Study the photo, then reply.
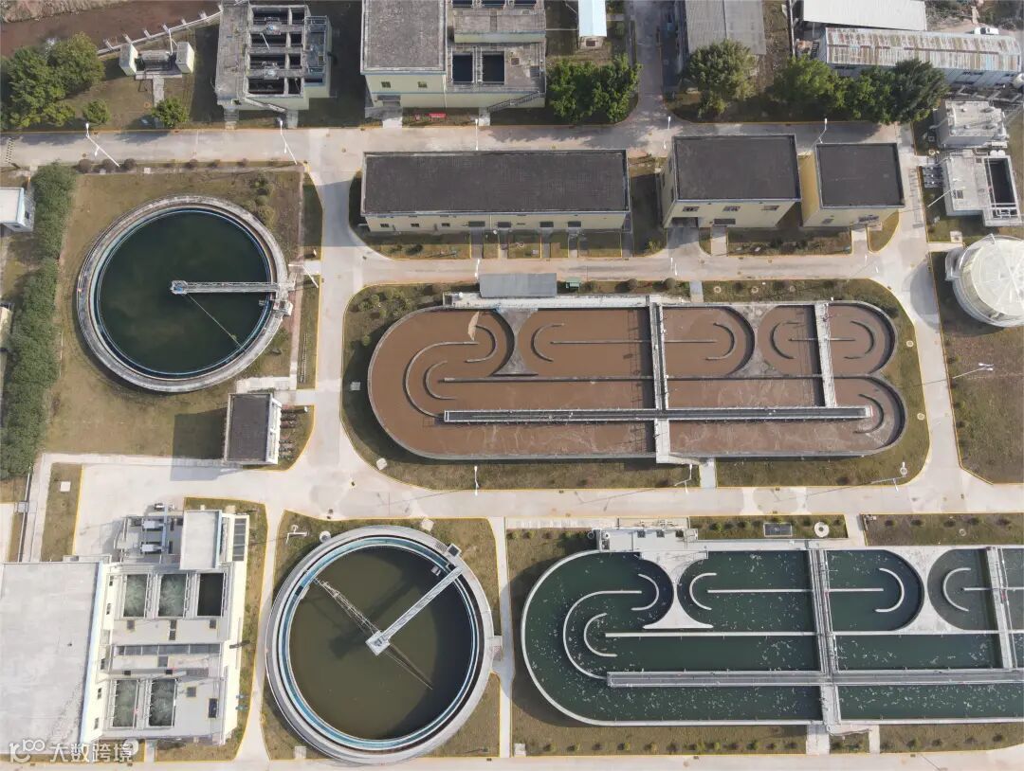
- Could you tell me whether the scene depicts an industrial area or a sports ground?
industrial area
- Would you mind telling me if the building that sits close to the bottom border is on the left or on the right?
left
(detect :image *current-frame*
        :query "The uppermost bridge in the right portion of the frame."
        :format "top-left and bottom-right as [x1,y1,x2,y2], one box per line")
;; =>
[444,404,875,427]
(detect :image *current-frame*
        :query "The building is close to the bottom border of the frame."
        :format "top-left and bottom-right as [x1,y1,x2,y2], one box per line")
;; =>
[0,561,117,745]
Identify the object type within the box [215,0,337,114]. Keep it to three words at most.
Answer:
storage tank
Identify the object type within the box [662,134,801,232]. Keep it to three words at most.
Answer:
building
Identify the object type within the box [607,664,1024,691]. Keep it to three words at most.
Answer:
bridge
